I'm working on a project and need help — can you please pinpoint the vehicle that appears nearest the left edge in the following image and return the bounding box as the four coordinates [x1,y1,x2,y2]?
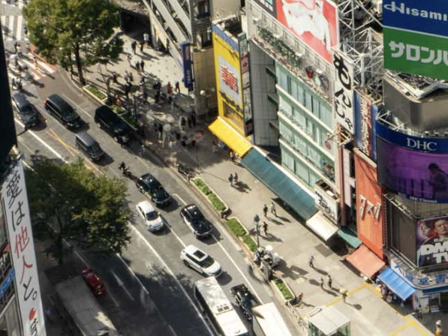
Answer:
[10,91,40,131]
